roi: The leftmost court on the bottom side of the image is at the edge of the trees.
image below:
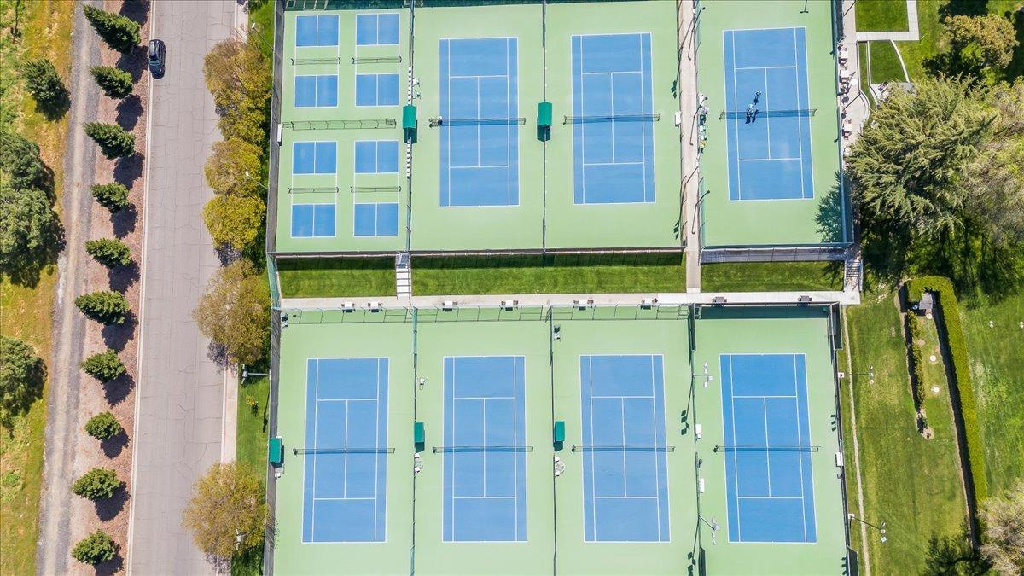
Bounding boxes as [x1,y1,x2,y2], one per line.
[273,309,415,576]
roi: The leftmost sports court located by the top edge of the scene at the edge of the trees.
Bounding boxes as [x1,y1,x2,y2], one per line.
[280,0,348,125]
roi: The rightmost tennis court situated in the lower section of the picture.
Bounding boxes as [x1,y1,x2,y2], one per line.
[691,304,847,576]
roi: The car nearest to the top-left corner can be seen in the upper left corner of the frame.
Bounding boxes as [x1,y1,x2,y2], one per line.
[146,41,165,76]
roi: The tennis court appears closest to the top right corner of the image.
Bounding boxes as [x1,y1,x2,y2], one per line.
[691,0,847,250]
